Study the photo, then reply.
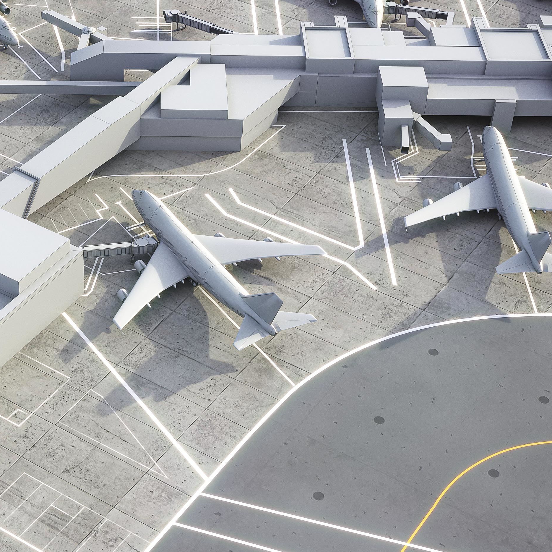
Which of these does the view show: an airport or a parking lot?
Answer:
airport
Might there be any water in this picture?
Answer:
No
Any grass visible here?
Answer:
No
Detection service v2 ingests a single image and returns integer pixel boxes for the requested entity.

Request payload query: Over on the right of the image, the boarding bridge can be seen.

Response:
[382,0,457,27]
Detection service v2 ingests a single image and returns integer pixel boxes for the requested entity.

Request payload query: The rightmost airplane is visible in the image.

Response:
[405,124,552,274]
